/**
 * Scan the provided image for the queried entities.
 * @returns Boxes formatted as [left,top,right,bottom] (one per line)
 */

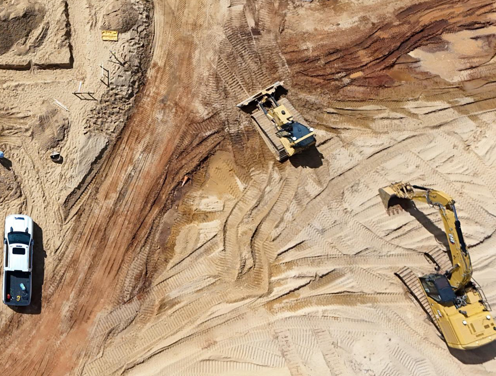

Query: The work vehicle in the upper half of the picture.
[237,80,318,161]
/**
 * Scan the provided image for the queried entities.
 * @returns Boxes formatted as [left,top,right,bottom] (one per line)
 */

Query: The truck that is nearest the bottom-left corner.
[2,216,37,314]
